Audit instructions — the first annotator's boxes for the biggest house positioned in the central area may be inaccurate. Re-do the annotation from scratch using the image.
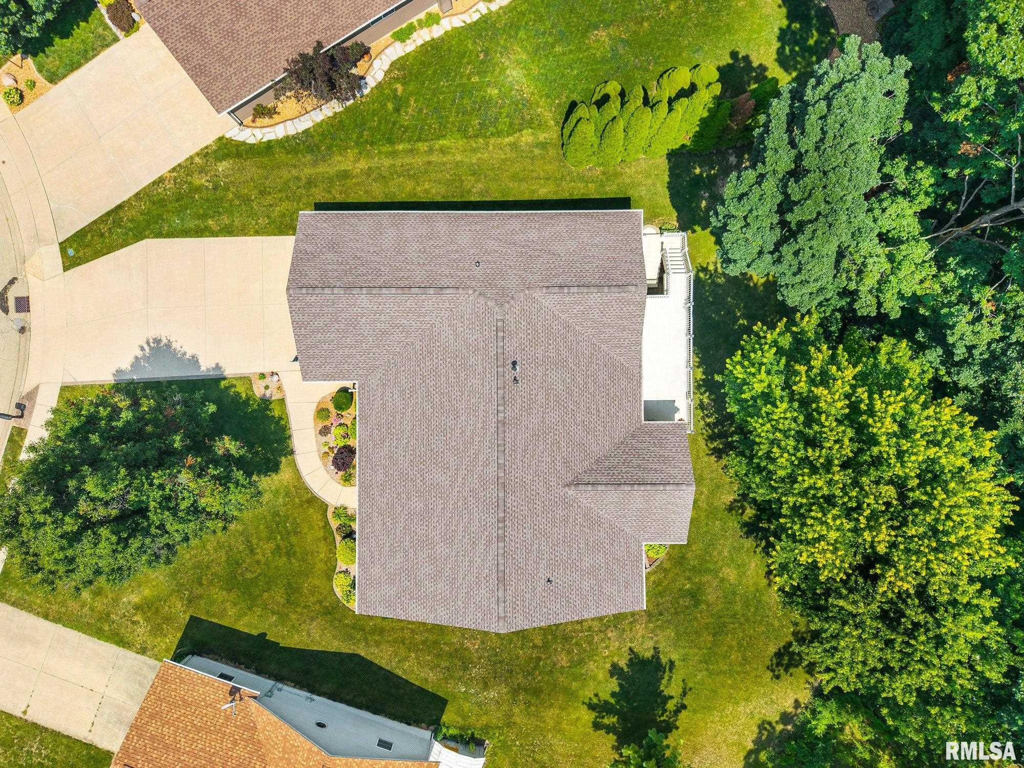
[285,210,695,636]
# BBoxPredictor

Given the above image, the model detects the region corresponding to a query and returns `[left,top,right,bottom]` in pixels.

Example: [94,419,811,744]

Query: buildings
[111,656,440,768]
[141,0,455,132]
[285,210,695,636]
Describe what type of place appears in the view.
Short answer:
residential area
